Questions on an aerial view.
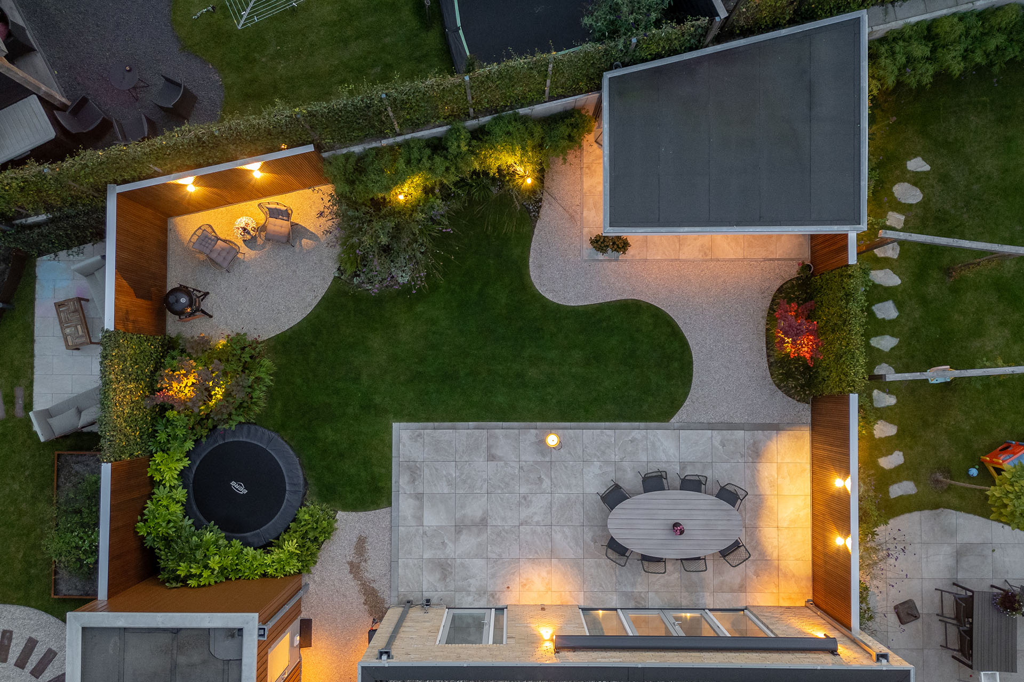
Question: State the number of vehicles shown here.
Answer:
0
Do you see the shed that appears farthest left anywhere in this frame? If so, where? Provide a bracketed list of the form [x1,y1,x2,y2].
[64,574,311,682]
